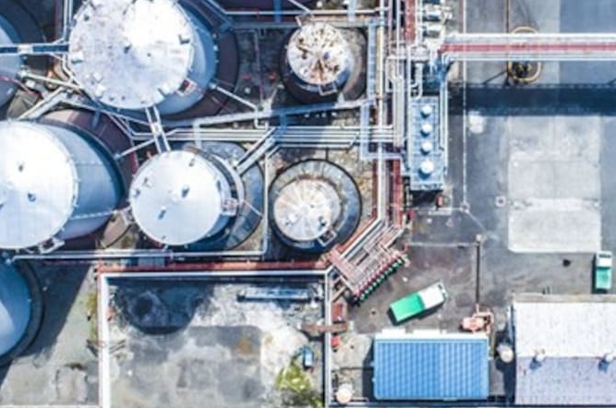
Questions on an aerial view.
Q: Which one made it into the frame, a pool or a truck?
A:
truck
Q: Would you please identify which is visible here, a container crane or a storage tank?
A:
storage tank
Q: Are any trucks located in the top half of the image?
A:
No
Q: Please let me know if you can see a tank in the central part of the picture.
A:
Yes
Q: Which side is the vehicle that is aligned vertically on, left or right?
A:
right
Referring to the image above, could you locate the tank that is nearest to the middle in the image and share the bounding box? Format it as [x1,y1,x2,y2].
[267,161,364,255]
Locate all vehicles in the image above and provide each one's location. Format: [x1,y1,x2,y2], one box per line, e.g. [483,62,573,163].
[384,276,450,326]
[592,250,613,292]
